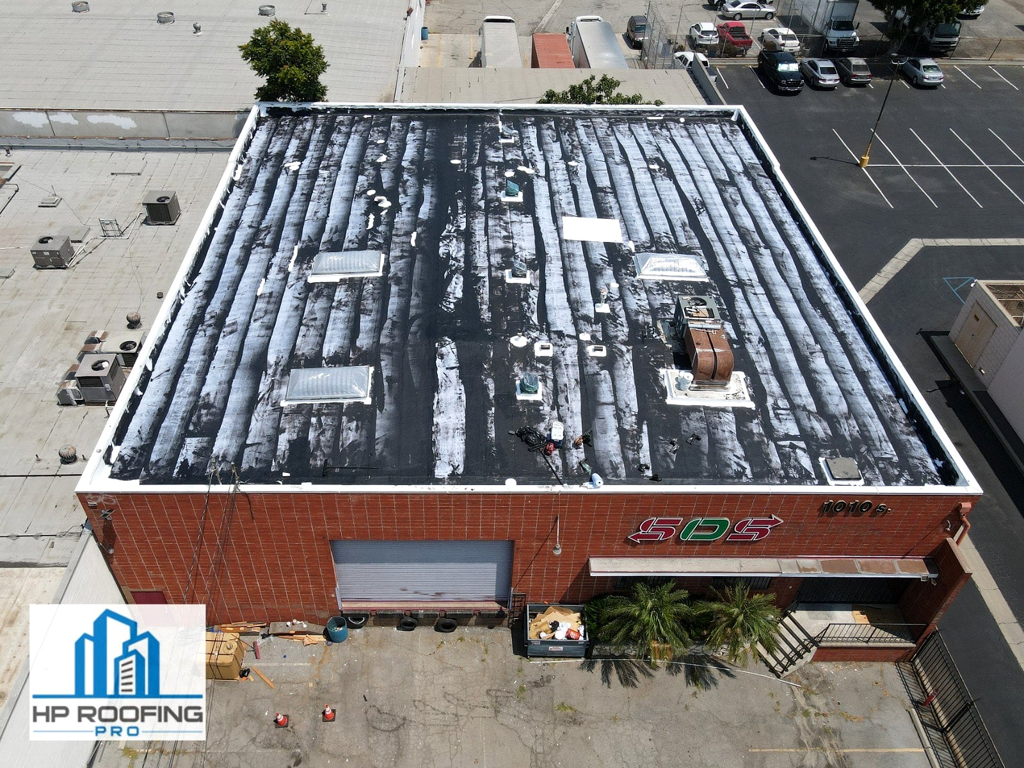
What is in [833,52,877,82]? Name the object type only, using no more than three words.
car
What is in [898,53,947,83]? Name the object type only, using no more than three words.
car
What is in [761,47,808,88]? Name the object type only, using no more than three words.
truck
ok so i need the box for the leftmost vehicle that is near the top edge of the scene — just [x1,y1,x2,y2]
[478,13,524,69]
